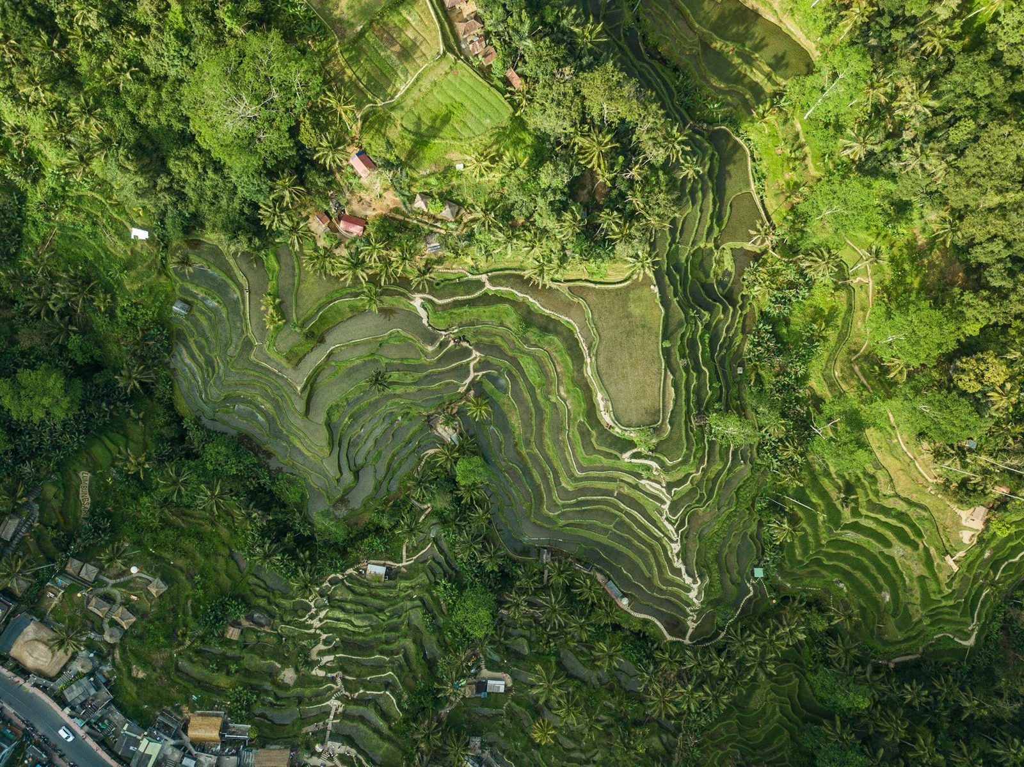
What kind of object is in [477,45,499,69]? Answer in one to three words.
house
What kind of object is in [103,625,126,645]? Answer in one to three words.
shed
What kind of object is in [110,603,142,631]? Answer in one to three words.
house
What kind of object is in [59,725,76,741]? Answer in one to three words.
car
